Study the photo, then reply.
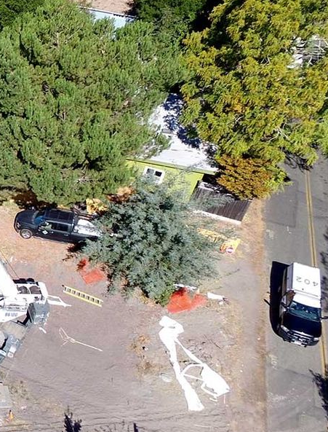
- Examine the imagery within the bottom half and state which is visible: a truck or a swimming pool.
truck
